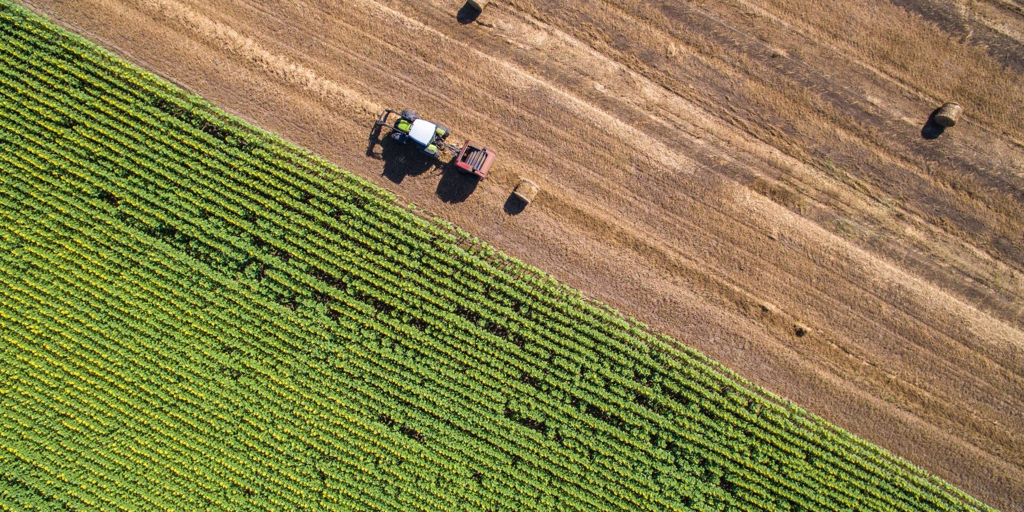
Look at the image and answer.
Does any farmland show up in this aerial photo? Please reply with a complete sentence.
Yes, the picture does contain farmland.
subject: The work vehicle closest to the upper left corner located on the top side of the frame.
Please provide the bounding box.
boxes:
[378,107,457,161]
